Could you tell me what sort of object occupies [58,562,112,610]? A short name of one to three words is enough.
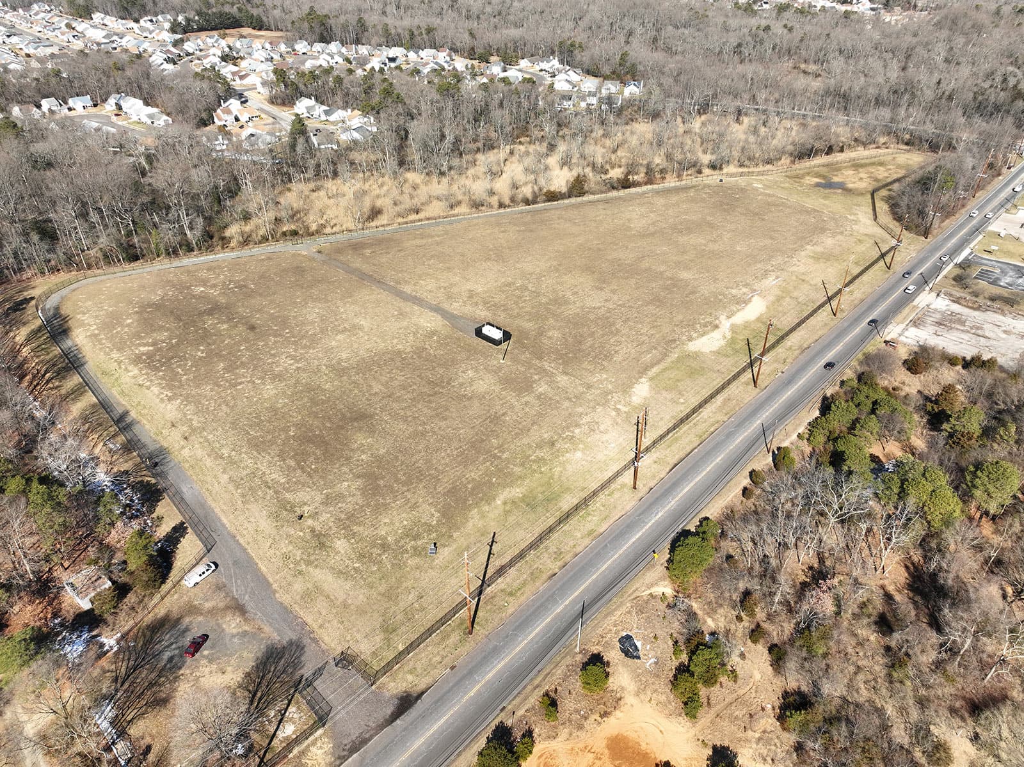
building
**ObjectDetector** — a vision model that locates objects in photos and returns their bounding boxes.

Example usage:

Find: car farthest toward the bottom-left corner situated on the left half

[182,632,212,663]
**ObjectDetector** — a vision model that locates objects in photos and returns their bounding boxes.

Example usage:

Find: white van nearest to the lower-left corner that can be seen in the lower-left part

[179,561,219,593]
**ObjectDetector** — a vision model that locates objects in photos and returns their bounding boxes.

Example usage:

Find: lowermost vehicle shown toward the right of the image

[822,360,837,373]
